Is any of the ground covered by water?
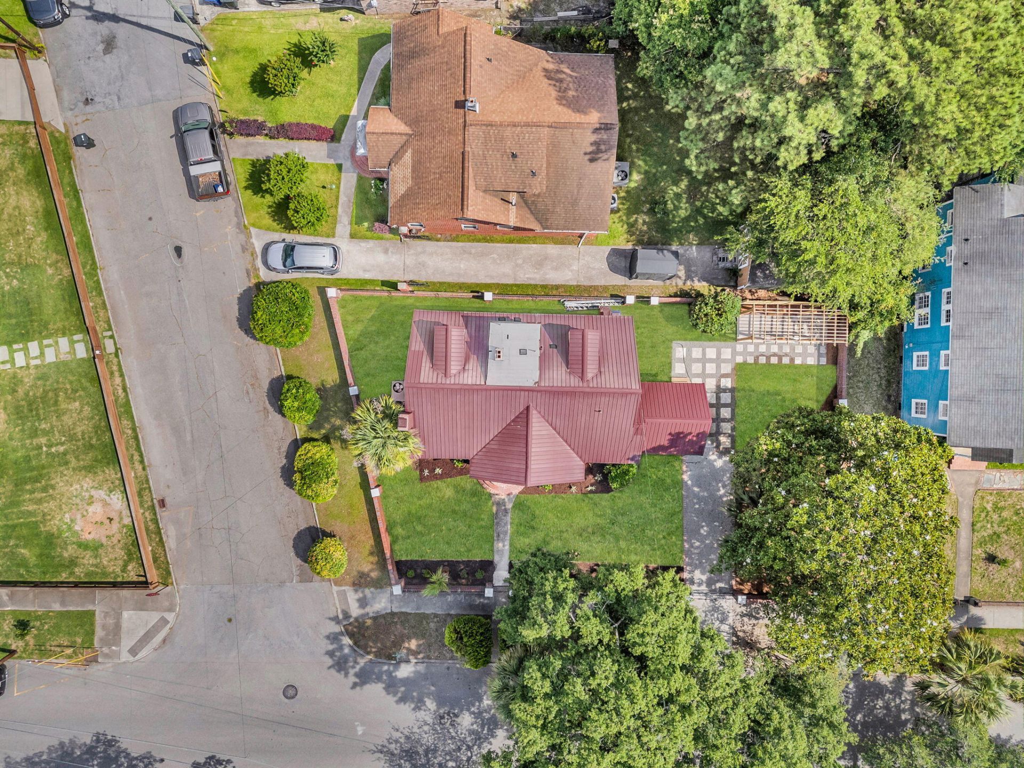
No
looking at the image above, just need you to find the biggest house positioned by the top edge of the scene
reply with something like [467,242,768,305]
[352,8,619,249]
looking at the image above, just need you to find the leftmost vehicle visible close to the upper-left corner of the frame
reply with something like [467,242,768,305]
[27,0,72,28]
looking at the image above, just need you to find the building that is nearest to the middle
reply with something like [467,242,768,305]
[397,309,712,495]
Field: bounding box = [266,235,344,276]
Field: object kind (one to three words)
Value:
car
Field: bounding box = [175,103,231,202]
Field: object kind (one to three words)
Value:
truck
